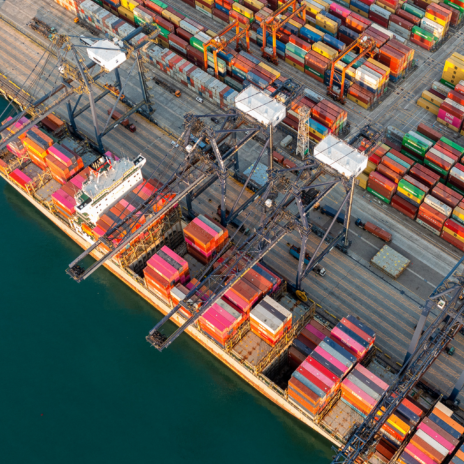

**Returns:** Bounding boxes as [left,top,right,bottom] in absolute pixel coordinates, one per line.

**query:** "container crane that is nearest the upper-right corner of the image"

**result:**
[327,32,377,101]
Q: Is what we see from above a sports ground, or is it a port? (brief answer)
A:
port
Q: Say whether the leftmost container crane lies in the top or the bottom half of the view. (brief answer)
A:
top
